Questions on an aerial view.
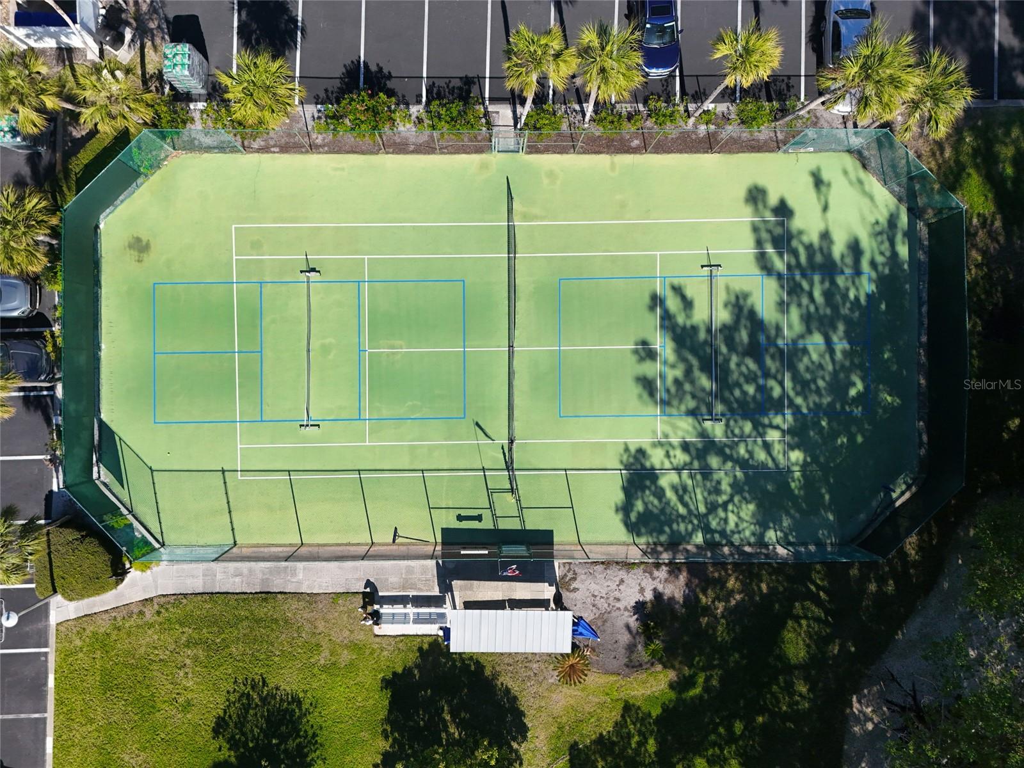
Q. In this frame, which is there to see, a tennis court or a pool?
tennis court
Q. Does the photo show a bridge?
No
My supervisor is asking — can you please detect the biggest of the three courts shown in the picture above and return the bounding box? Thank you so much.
[101,153,919,543]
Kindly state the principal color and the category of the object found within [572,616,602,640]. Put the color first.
blue umbrella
